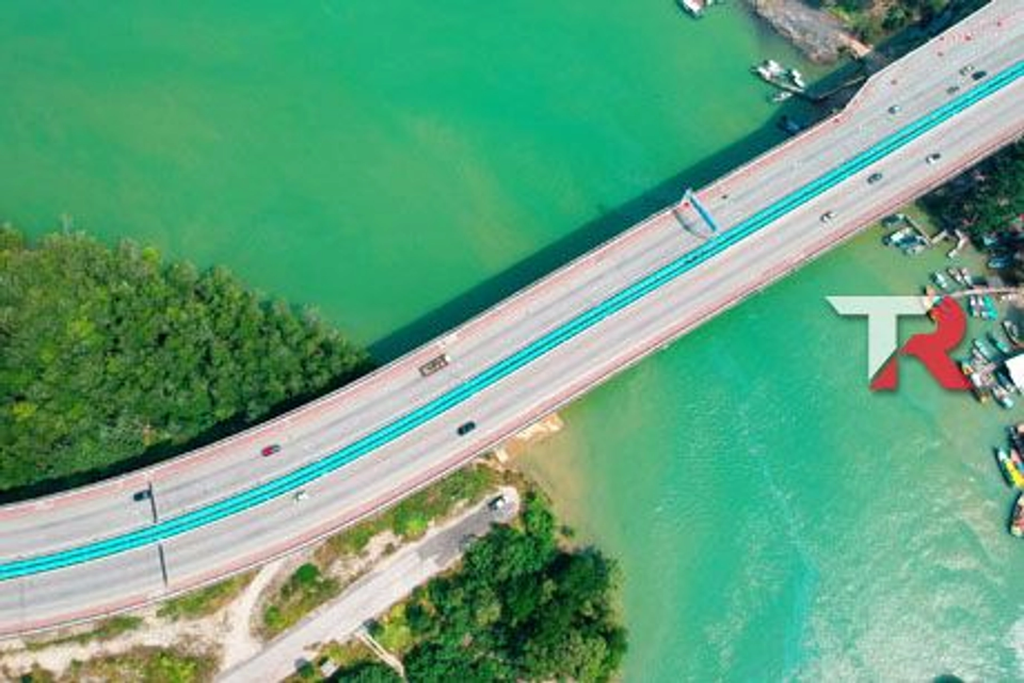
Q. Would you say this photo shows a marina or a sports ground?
marina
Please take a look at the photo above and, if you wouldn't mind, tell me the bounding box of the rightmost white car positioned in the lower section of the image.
[490,495,508,509]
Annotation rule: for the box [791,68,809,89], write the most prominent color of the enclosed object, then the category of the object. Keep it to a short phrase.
white boat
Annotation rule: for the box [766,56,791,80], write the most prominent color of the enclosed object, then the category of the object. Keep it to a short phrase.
white boat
